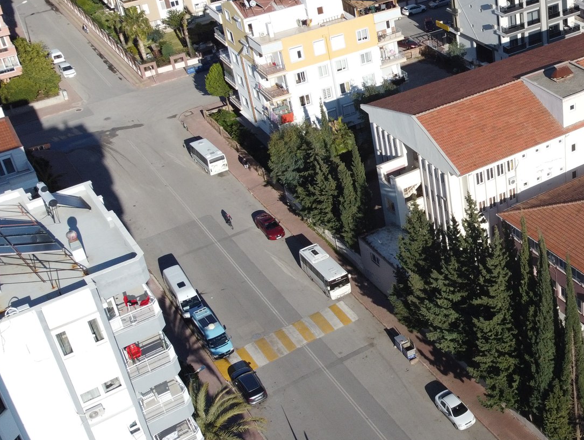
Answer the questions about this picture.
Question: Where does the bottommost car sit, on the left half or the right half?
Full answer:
You can find the bottommost car on the right side of the picture.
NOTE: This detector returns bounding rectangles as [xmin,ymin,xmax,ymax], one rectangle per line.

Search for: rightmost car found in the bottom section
[432,385,474,425]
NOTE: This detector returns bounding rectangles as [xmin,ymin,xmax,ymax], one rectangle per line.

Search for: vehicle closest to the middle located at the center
[253,212,282,237]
